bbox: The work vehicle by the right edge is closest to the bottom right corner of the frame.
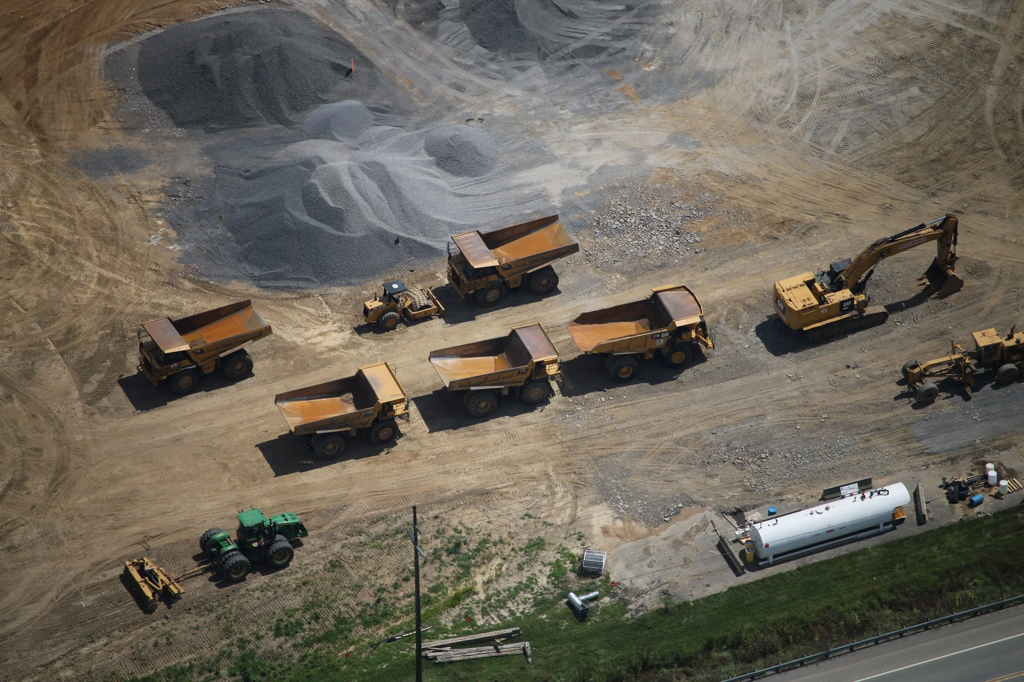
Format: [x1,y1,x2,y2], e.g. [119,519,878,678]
[902,322,1024,403]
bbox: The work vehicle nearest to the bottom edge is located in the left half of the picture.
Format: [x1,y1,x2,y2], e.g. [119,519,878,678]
[199,506,308,585]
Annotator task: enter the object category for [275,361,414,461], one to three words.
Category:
truck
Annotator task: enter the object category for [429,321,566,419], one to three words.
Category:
truck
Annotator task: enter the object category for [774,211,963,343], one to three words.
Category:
work vehicle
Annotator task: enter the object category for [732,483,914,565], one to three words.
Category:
storage tank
